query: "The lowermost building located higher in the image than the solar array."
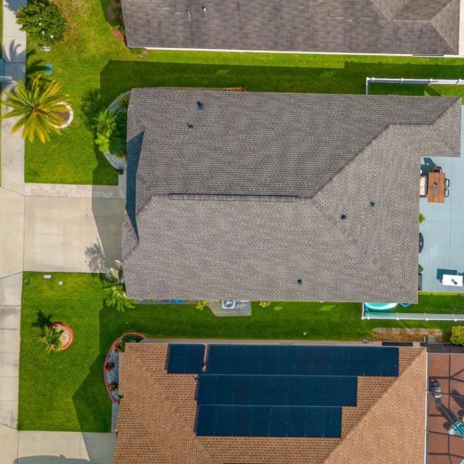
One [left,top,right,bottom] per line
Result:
[121,89,463,304]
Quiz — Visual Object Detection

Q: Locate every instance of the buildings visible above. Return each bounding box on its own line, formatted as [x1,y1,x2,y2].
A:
[119,0,459,60]
[113,338,427,464]
[121,89,463,304]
